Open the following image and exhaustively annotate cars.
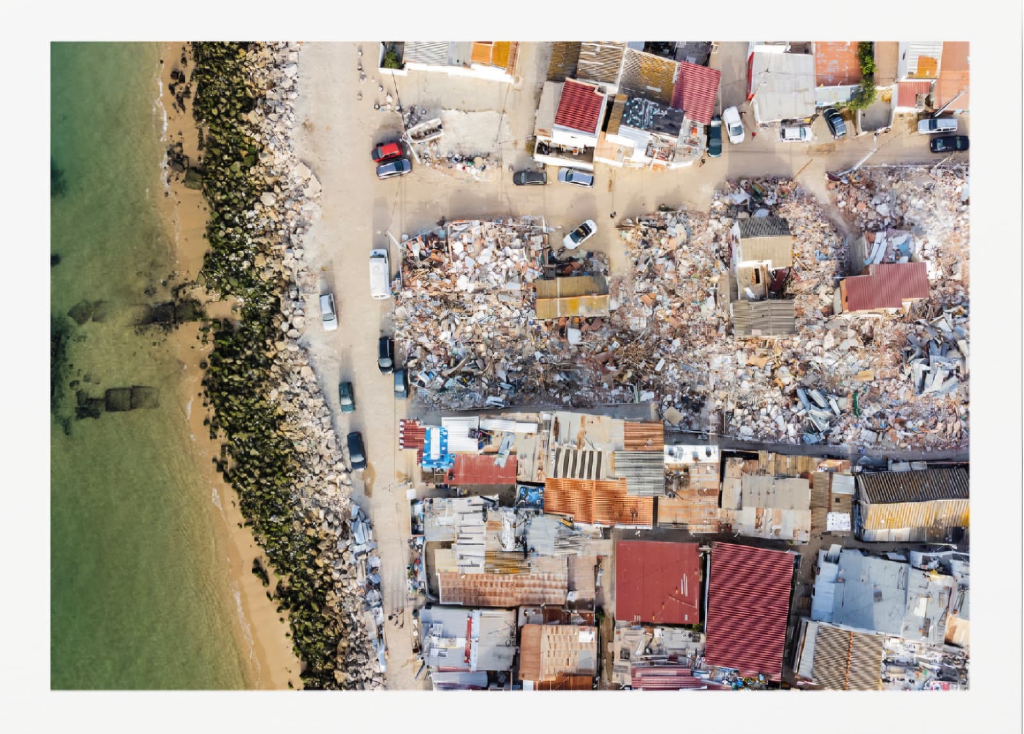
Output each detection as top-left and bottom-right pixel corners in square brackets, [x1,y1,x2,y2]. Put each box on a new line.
[514,169,547,187]
[928,134,967,153]
[377,336,395,374]
[777,124,813,144]
[392,368,409,401]
[915,116,956,135]
[706,116,724,155]
[320,293,339,330]
[371,143,405,162]
[560,219,599,251]
[375,158,414,180]
[722,106,744,145]
[556,167,595,188]
[347,431,367,470]
[338,379,356,413]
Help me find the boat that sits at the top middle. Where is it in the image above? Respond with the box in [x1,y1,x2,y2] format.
[403,115,445,139]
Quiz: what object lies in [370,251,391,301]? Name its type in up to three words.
vehicle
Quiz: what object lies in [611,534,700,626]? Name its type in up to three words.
building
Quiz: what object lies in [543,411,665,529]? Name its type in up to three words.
house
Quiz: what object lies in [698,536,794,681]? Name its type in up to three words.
building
